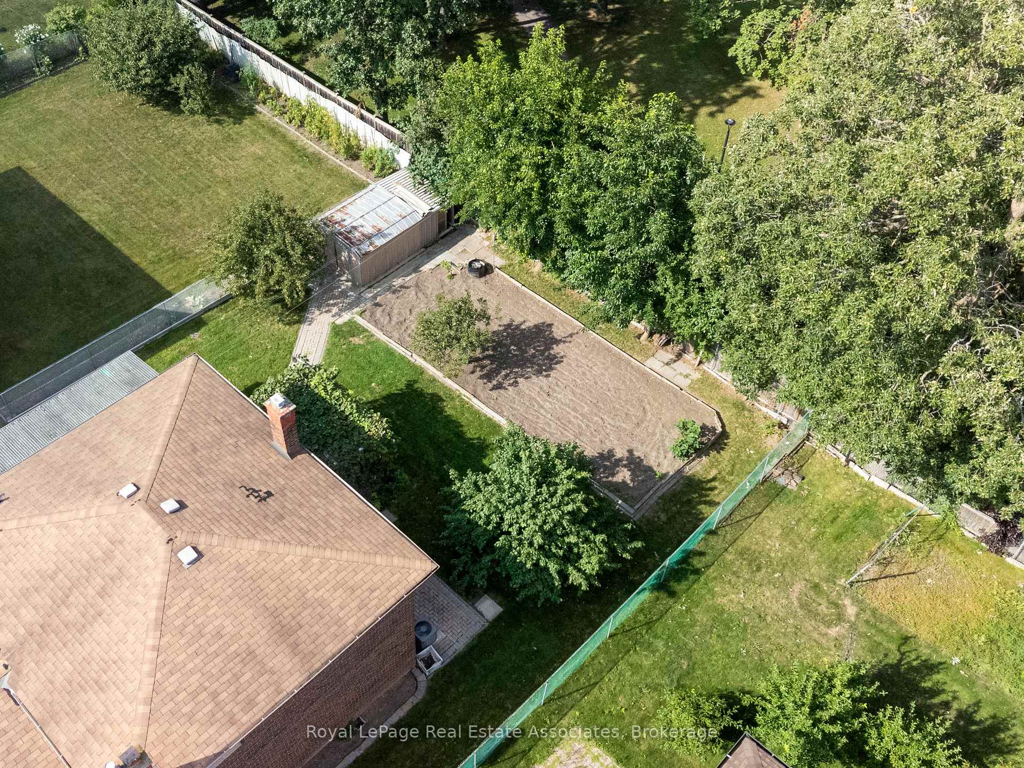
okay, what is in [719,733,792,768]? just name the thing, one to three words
shed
